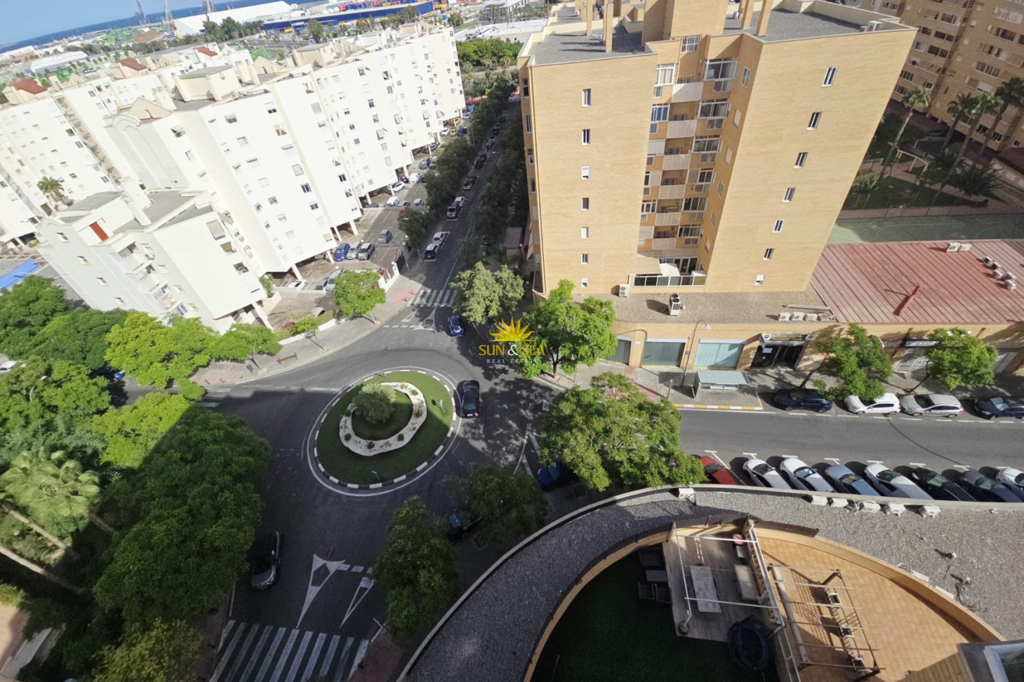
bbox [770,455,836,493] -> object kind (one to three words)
car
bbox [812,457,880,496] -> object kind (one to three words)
car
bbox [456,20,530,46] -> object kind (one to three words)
building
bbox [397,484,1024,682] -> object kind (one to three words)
building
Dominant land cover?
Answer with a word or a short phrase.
buildings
